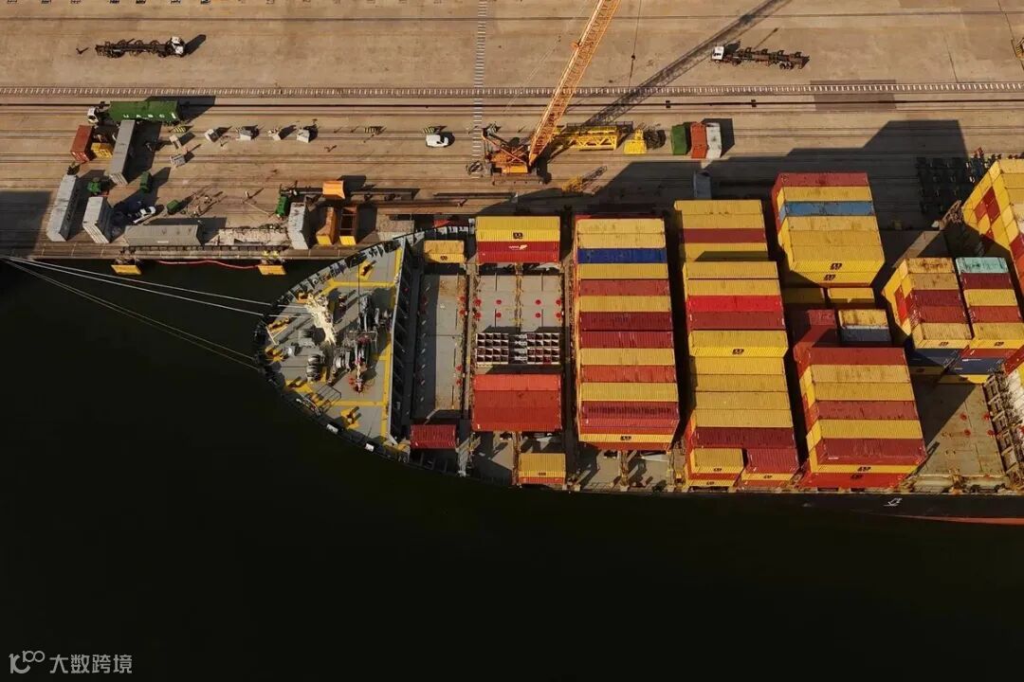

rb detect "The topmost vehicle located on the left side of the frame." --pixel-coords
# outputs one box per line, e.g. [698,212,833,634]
[100,38,191,58]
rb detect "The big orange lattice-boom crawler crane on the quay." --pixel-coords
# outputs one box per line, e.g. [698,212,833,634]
[477,0,644,187]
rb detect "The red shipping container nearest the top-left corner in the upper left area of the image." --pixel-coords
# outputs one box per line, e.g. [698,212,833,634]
[71,124,97,160]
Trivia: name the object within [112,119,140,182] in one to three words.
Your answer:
shipping container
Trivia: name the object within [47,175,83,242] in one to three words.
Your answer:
shipping container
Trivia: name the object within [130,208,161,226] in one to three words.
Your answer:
vehicle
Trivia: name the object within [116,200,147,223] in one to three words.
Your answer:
truck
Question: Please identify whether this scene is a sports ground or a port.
port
